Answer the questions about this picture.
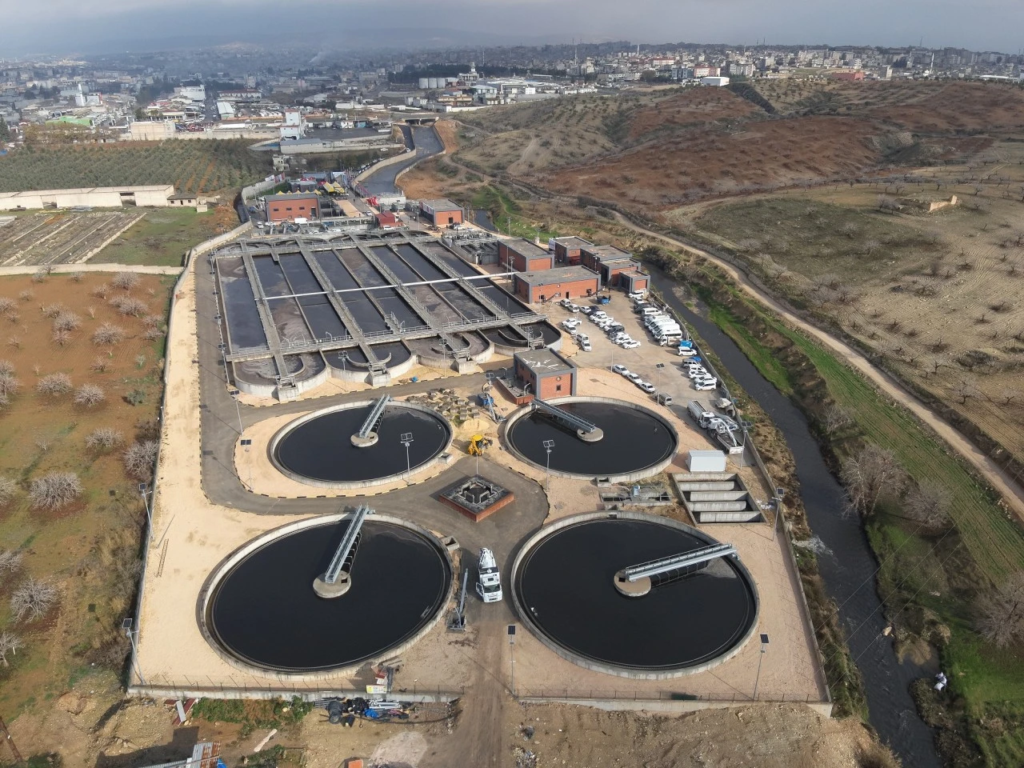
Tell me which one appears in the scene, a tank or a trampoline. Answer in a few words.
tank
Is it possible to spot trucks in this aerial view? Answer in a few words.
Yes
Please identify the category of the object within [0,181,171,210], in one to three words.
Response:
building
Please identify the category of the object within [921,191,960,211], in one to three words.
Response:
house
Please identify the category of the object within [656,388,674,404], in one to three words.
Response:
car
